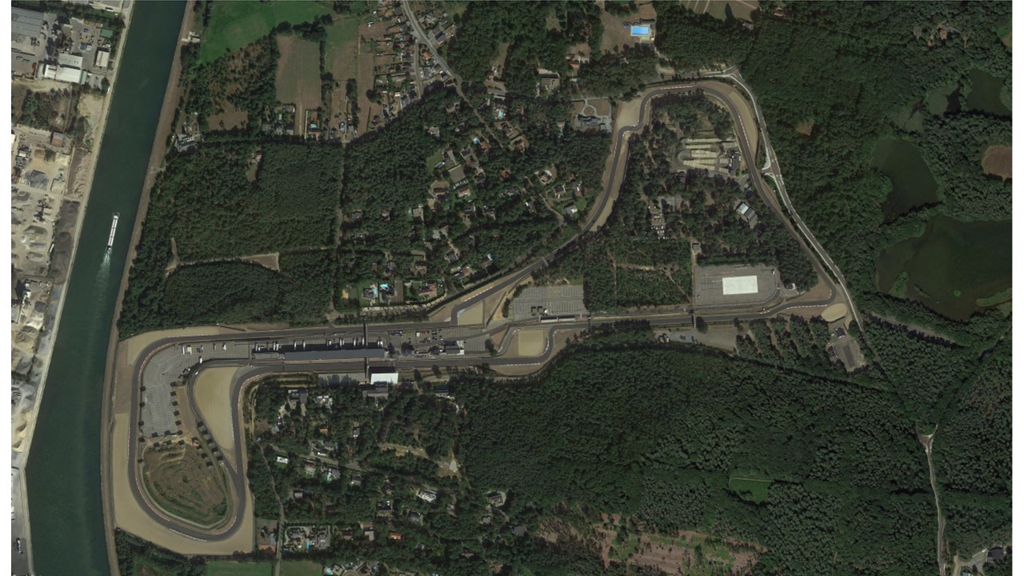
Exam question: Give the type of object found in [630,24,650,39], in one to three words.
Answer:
swimming pool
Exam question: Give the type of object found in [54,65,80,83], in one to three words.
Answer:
building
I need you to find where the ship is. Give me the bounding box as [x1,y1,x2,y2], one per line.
[107,212,119,253]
